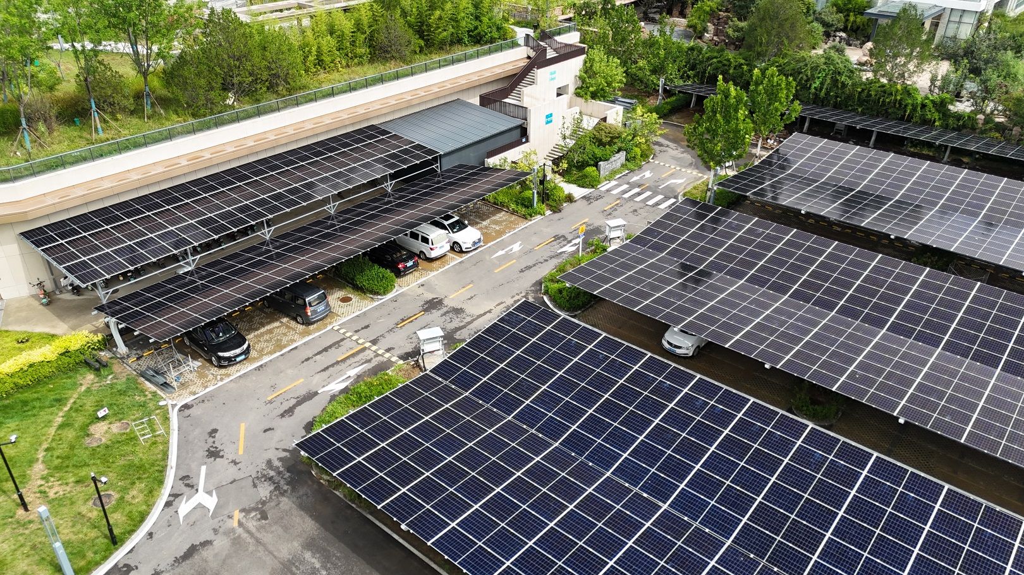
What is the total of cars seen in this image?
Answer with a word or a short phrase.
6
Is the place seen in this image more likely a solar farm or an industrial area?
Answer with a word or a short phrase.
solar farm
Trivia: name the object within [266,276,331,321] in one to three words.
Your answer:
car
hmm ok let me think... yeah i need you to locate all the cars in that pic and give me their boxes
[431,214,486,252]
[181,315,254,366]
[398,221,450,258]
[266,276,331,321]
[355,236,418,272]
[660,326,707,356]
